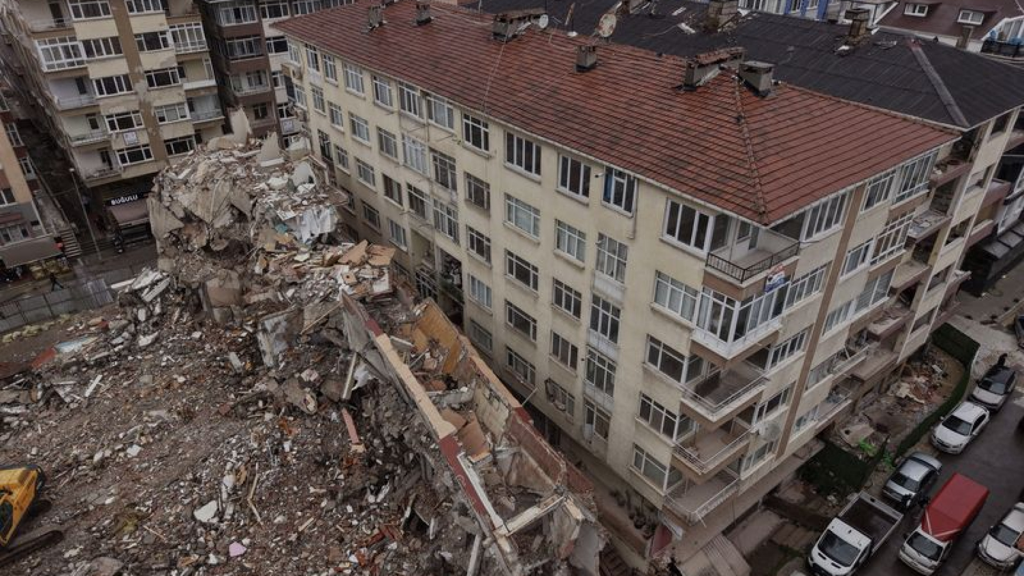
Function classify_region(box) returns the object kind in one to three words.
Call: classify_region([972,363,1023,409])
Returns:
car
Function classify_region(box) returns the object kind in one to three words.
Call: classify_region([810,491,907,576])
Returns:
truck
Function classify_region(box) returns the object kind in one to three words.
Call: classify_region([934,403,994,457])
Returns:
car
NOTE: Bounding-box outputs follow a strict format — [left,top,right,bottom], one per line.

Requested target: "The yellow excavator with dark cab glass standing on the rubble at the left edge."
[0,462,60,574]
